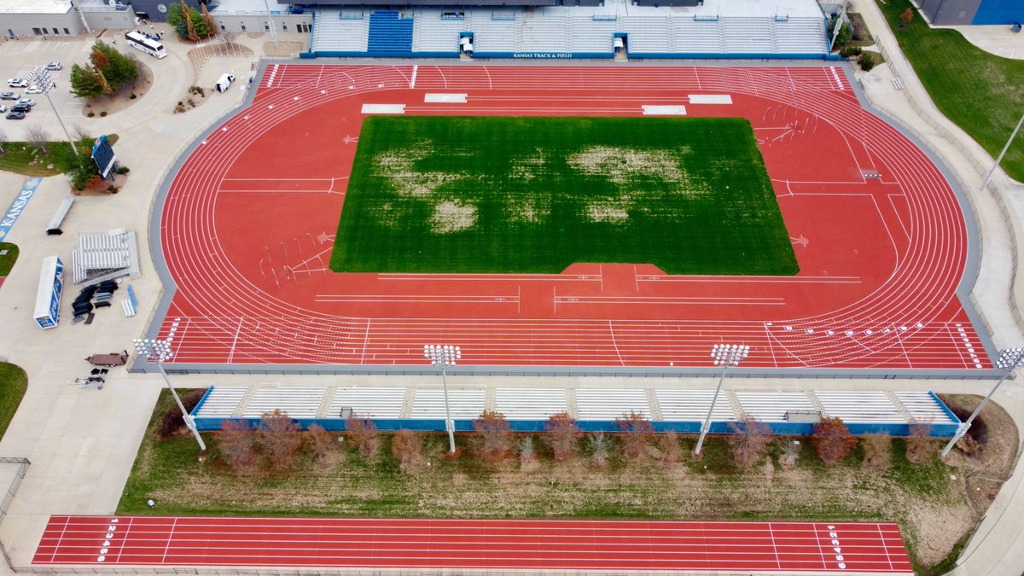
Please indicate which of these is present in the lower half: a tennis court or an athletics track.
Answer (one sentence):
You can see an athletics track in the lower half.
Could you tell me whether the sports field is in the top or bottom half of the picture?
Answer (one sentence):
You can find the sports field in the top half.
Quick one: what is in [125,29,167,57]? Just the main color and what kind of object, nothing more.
white bus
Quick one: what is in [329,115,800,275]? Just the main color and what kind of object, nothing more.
green sports field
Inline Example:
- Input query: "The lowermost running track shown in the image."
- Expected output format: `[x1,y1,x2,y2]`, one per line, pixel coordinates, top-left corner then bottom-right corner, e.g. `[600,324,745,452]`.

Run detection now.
[29,514,915,572]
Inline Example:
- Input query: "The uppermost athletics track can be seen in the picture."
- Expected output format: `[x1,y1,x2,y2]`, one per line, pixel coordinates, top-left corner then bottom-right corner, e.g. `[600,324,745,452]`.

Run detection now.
[128,59,1015,381]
